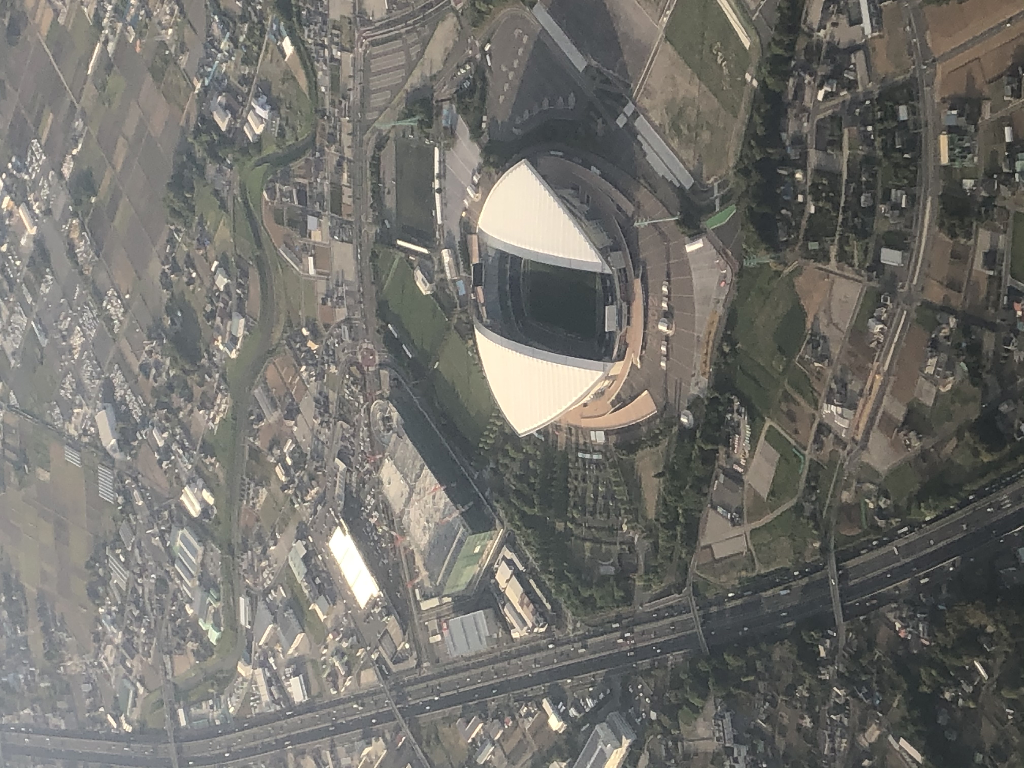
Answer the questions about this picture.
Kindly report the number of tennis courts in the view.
zero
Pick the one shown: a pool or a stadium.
stadium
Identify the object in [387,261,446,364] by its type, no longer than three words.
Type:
sports field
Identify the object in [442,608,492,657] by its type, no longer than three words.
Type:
building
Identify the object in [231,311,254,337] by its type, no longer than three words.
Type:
building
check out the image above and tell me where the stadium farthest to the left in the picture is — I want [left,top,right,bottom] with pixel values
[470,155,661,442]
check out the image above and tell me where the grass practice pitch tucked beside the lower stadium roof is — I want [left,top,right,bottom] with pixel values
[433,329,498,445]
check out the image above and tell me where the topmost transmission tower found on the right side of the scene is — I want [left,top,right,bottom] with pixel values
[635,214,678,228]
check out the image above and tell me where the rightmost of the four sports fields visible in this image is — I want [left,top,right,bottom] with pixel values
[526,259,598,342]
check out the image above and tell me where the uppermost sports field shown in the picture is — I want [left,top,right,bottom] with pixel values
[395,139,437,231]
